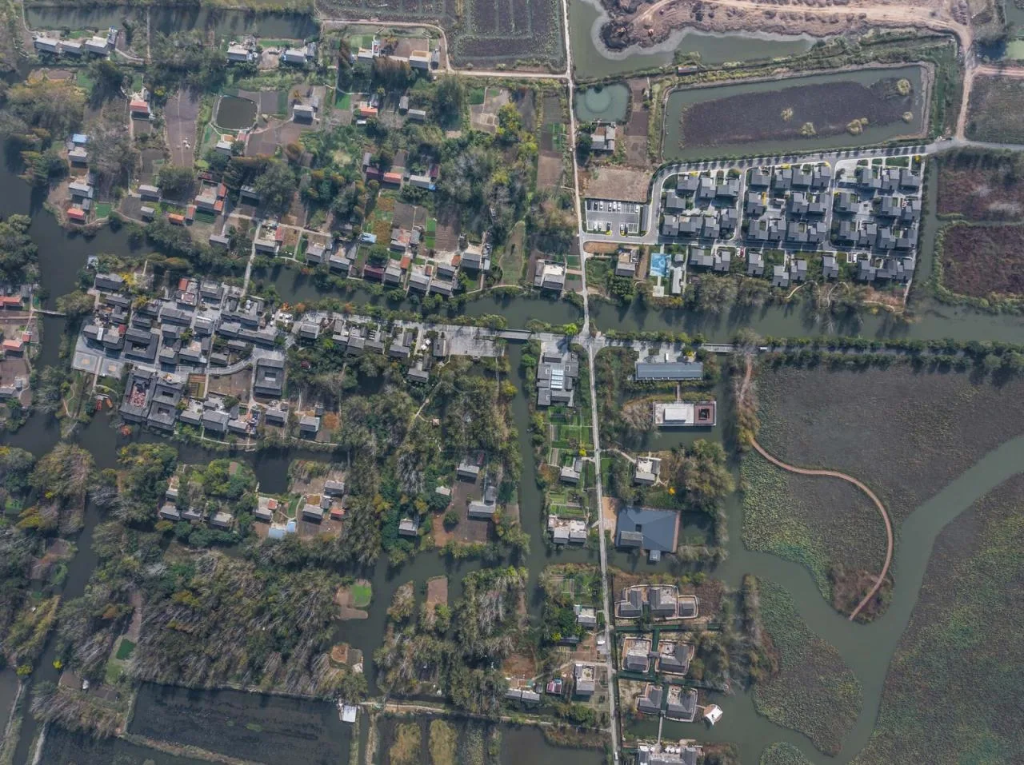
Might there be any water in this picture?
Yes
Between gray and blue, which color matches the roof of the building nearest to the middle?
gray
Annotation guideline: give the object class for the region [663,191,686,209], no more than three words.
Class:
house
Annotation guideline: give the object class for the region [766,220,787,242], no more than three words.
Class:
house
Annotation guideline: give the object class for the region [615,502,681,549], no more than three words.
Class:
building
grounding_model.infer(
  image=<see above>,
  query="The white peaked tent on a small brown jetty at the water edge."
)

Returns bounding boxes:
[704,705,725,727]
